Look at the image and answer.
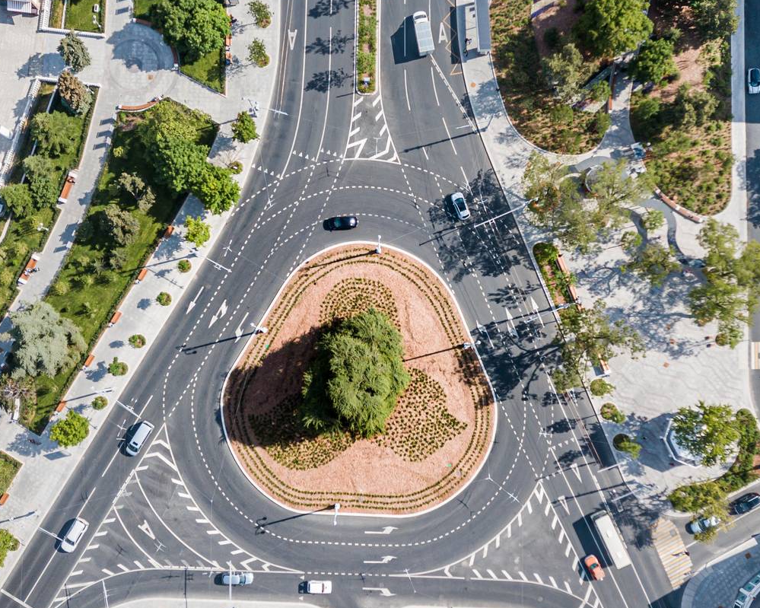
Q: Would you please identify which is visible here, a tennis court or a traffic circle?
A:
traffic circle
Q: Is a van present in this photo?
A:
Yes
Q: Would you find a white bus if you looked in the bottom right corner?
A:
Yes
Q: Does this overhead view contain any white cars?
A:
Yes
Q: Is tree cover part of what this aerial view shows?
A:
Yes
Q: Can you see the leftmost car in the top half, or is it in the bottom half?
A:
bottom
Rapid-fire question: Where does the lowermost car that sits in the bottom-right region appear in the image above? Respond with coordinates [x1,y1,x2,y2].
[582,550,606,585]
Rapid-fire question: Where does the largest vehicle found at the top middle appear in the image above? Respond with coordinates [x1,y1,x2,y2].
[413,12,435,59]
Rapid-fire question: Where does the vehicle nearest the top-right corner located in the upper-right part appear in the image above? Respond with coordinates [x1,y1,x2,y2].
[748,67,760,95]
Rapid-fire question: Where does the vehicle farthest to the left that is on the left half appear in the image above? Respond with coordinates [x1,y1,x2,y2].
[61,519,87,553]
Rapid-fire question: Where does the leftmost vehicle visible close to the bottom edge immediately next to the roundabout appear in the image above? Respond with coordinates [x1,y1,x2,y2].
[221,571,254,588]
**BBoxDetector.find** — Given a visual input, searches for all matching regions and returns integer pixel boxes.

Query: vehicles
[582,550,606,585]
[61,519,87,553]
[325,216,358,231]
[732,493,760,515]
[302,580,332,596]
[124,419,154,456]
[748,67,760,95]
[450,191,468,223]
[413,12,435,59]
[221,571,254,588]
[587,508,631,569]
